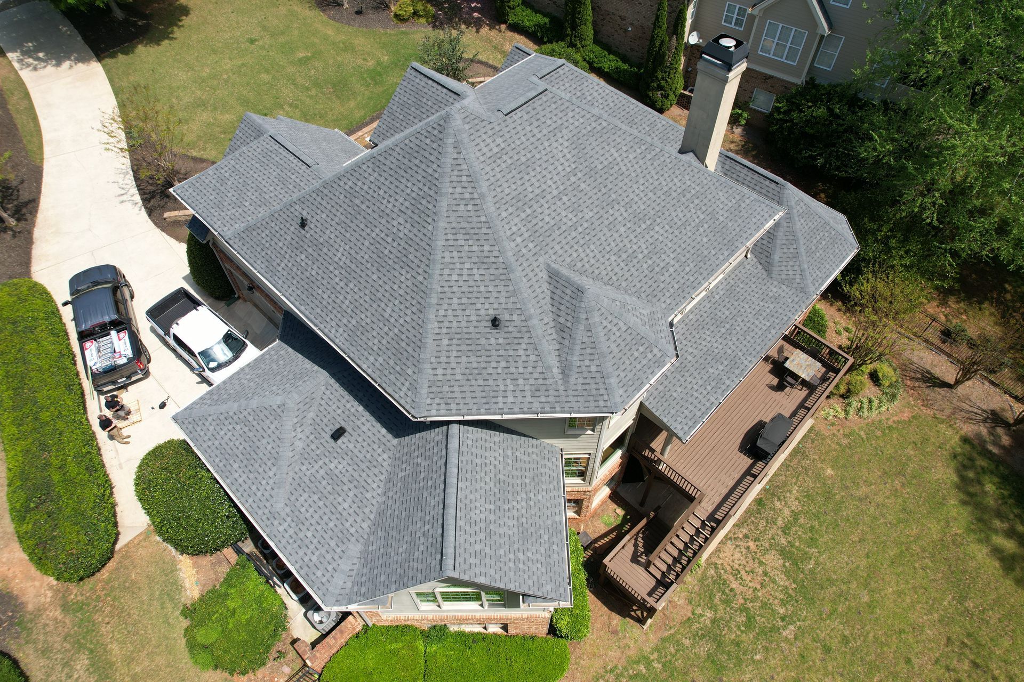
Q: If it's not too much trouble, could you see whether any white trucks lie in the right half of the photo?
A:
No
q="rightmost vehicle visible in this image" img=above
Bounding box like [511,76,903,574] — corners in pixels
[145,289,257,387]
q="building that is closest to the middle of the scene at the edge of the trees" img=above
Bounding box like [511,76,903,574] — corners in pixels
[169,34,863,635]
